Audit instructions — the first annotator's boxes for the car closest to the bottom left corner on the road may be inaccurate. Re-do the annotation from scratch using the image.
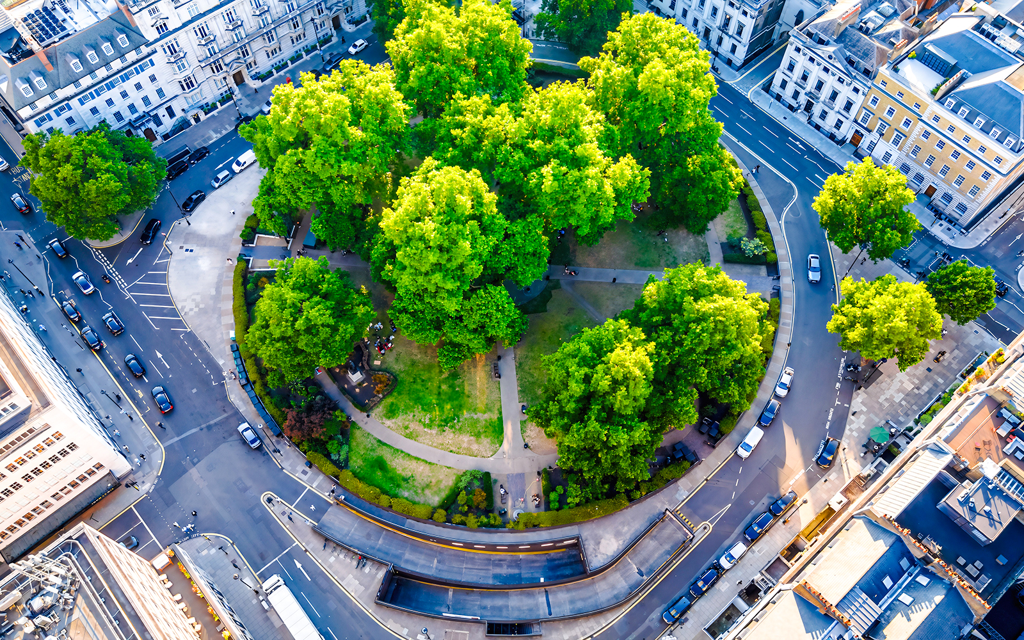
[118,530,144,550]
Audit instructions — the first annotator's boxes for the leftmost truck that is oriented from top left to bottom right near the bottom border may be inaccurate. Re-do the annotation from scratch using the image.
[262,569,329,640]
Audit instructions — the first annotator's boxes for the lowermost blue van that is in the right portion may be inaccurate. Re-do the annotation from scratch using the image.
[660,590,695,627]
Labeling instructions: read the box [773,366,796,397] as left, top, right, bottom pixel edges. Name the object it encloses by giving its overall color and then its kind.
white car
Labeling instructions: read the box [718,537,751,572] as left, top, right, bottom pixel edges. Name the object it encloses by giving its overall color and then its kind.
white van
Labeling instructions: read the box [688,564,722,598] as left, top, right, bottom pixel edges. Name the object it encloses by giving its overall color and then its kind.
blue car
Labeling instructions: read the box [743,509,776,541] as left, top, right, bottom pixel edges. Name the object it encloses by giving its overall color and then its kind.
blue car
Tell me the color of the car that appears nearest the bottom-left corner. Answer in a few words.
blue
